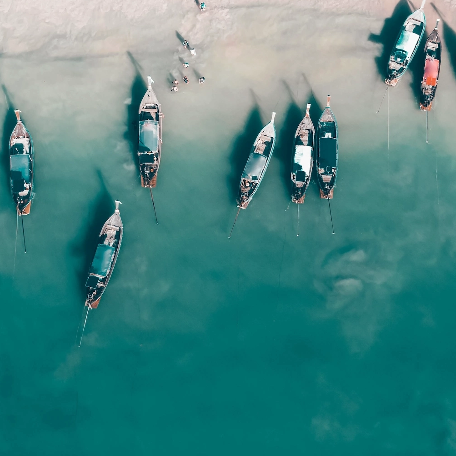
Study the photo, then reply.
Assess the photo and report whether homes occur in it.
No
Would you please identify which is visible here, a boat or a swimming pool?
boat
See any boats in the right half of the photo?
Yes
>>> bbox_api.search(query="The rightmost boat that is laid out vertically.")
[420,19,442,124]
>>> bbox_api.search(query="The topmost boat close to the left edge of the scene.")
[10,110,36,253]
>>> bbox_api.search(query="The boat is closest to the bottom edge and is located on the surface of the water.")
[78,199,125,347]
